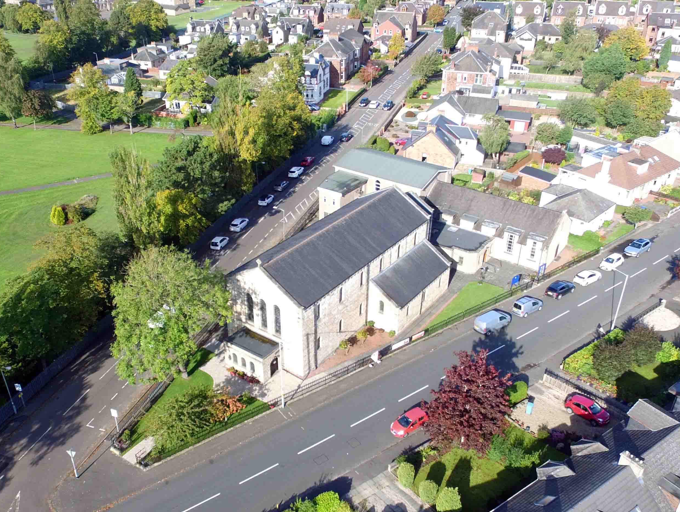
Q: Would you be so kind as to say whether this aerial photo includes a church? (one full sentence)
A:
Yes, a church appears in the view.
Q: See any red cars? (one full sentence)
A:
Yes, a red car can be made out from above.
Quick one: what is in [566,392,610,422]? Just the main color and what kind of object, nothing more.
red car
